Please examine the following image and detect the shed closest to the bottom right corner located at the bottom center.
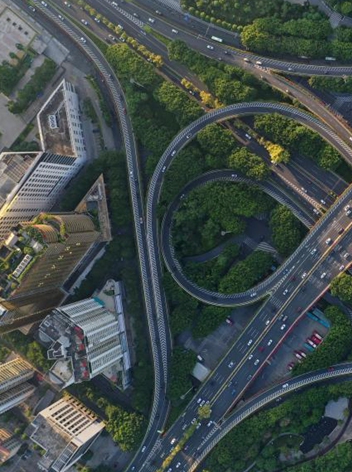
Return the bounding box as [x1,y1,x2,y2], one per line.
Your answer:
[191,360,215,381]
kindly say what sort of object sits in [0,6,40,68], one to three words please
building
